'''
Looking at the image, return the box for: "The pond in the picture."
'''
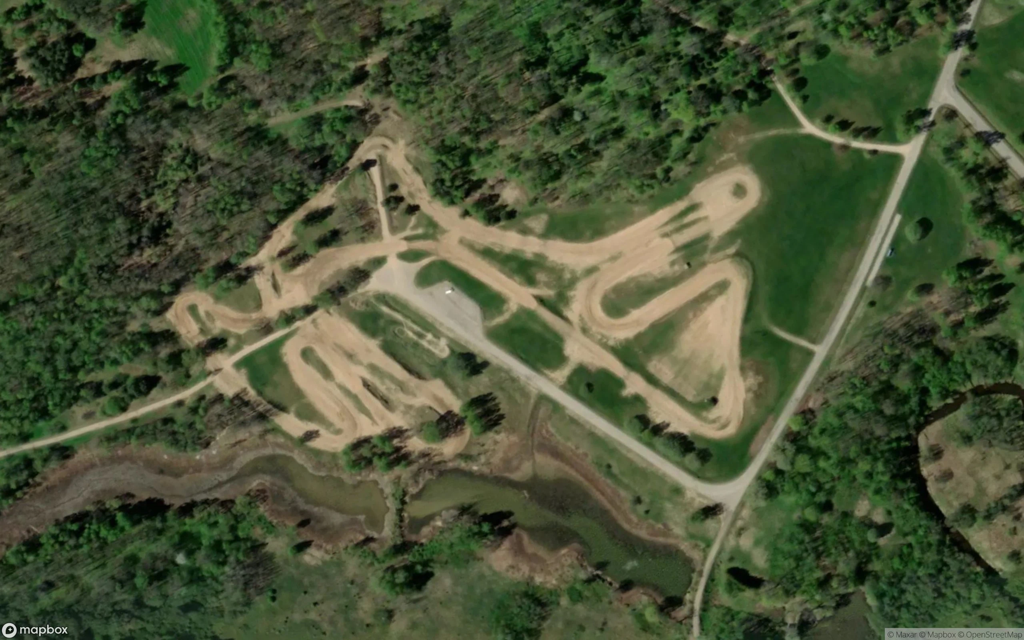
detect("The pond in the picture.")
[238,454,694,605]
